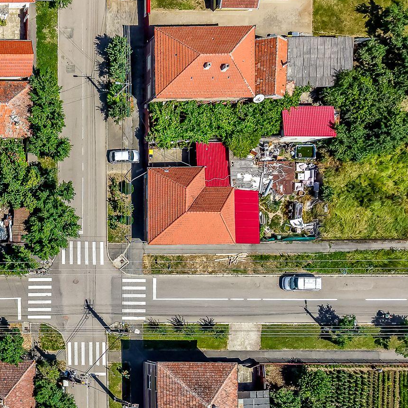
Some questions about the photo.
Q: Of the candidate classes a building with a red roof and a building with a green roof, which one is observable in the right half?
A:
building with a red roof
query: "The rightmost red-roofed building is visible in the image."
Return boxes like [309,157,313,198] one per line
[270,106,337,140]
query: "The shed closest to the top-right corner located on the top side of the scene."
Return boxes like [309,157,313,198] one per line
[287,37,354,90]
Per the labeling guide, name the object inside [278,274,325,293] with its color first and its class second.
white car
